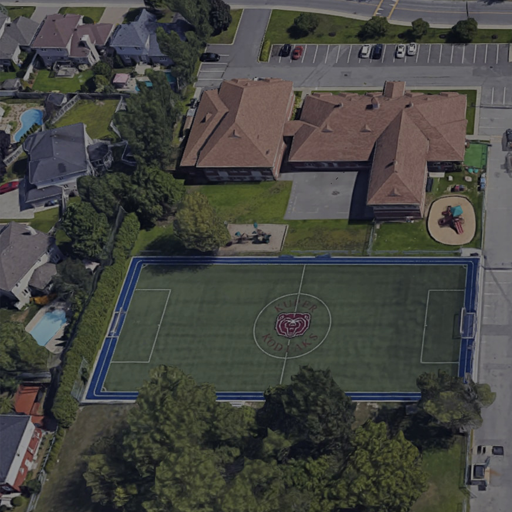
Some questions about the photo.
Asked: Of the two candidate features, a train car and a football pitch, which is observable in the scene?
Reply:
football pitch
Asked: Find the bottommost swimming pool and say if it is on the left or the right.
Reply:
left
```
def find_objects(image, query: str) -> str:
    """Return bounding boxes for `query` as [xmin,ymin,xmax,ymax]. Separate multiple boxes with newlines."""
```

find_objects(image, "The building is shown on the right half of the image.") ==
[178,65,468,222]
